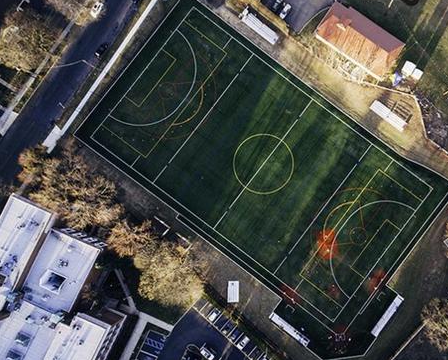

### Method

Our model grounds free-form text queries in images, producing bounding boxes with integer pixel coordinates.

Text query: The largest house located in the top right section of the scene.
[317,1,406,80]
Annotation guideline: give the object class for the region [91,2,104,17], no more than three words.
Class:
vehicle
